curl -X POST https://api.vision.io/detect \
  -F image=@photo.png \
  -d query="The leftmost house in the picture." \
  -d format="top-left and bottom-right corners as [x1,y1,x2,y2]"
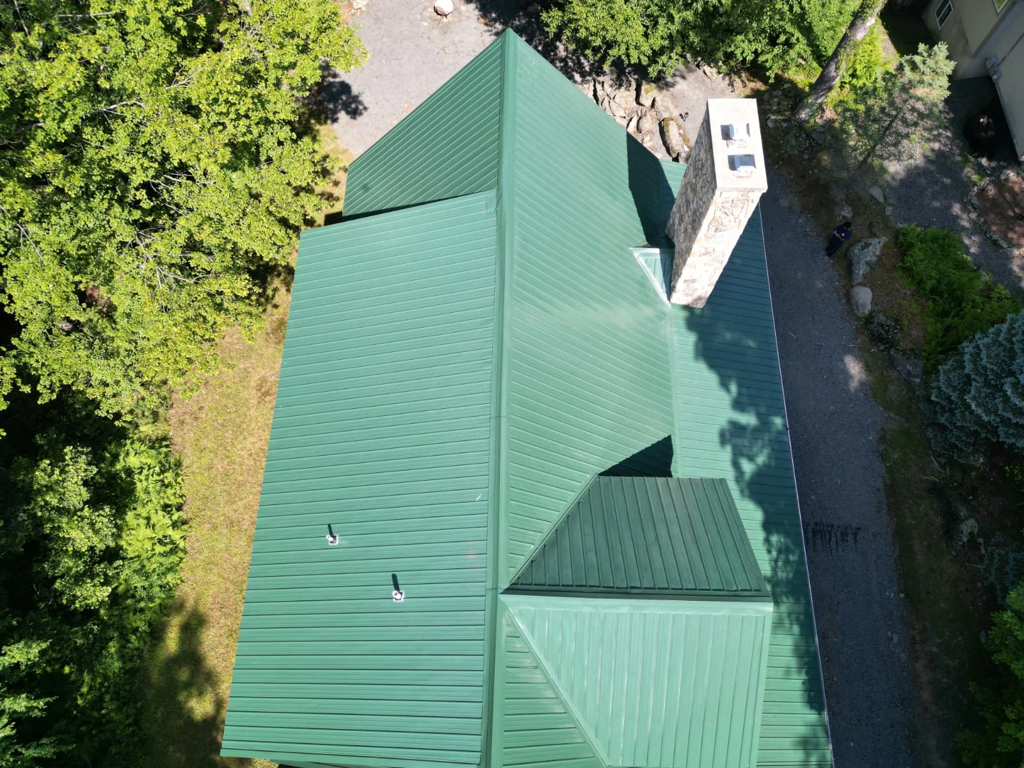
[222,26,835,768]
